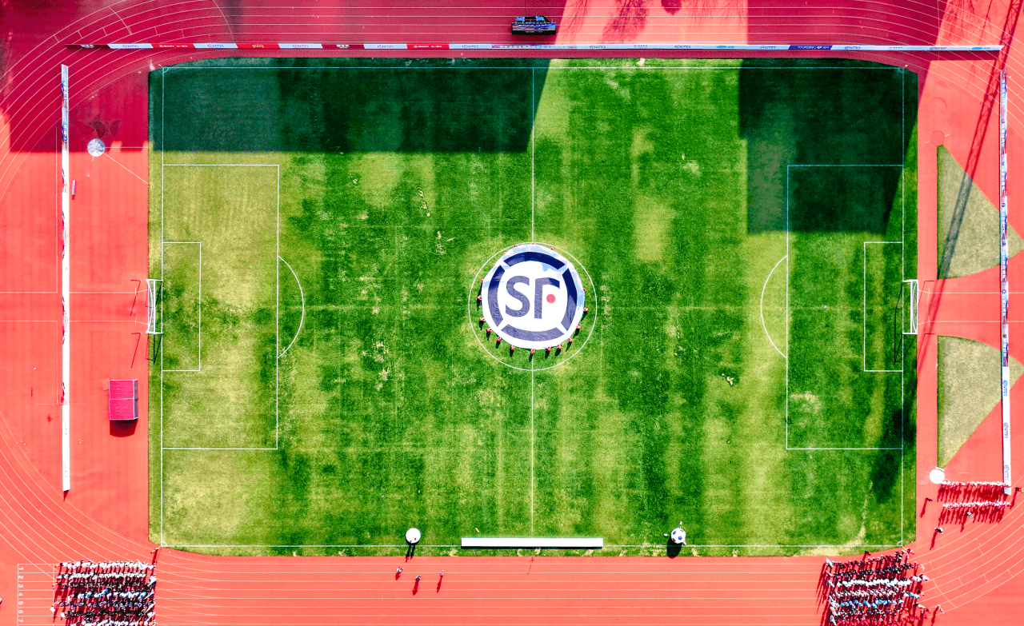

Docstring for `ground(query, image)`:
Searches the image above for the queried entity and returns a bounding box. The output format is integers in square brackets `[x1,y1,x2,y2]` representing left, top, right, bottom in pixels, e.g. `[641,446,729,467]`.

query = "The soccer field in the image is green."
[148,57,919,557]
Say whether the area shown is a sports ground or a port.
sports ground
